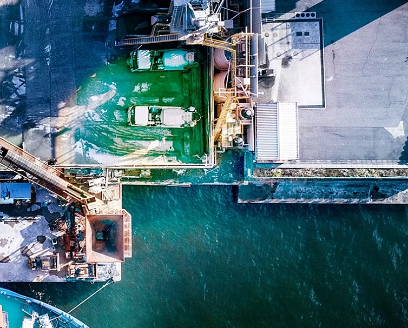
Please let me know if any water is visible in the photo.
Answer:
Yes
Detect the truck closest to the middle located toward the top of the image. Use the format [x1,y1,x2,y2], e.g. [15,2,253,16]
[126,100,206,128]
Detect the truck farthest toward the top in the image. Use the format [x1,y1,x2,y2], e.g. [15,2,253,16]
[128,46,209,72]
